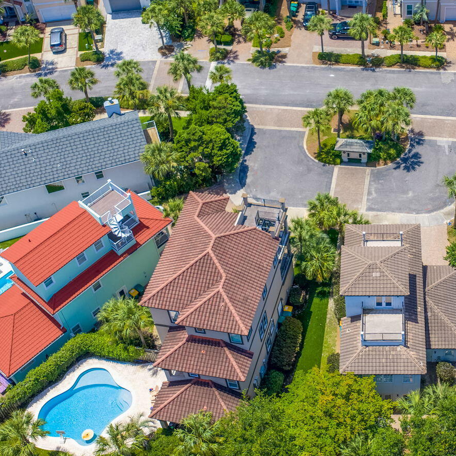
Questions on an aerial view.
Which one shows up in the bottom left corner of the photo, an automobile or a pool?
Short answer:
pool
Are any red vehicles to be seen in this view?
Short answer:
No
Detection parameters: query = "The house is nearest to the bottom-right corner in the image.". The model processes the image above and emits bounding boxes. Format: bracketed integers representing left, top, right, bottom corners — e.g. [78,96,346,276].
[338,222,456,399]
